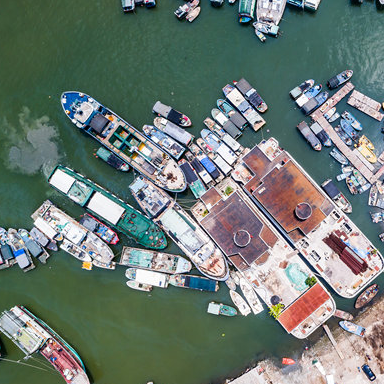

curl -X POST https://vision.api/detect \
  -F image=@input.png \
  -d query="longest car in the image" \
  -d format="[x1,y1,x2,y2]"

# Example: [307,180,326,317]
[360,363,376,380]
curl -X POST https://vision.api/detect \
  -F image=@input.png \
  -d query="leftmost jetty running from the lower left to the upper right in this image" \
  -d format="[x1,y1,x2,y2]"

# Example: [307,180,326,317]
[305,82,355,121]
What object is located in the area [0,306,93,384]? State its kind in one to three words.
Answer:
vessel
